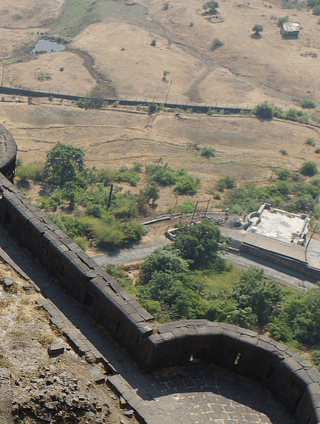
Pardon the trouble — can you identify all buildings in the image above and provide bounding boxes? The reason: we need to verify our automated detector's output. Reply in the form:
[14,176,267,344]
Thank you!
[241,201,312,262]
[275,21,303,39]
